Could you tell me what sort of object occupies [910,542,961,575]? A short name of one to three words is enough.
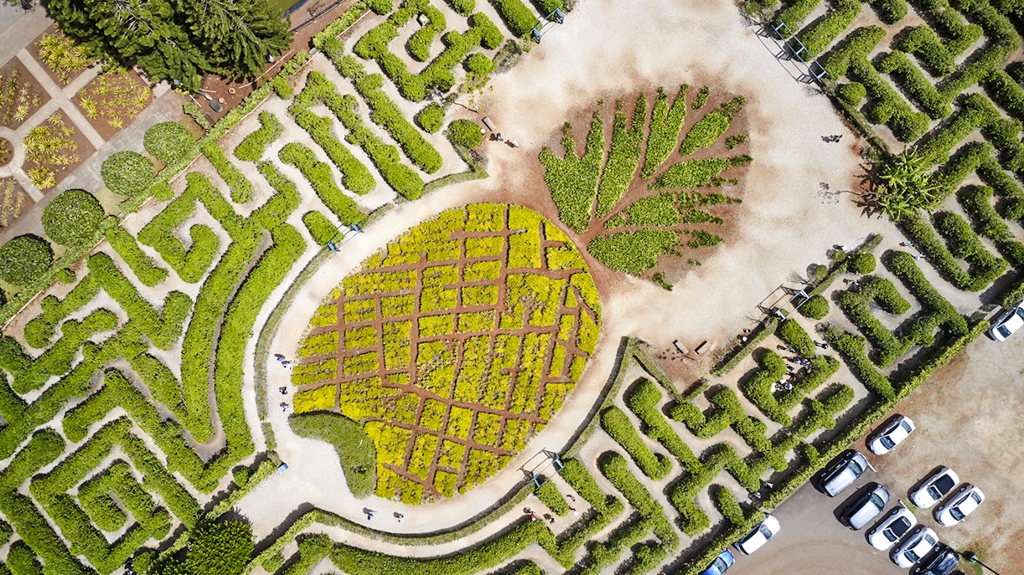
car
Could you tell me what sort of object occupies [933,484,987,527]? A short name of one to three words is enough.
car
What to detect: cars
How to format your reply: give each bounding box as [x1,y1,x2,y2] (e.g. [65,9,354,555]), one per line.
[910,542,961,575]
[888,524,941,569]
[734,511,783,557]
[818,450,871,500]
[867,506,919,550]
[908,465,962,508]
[691,546,737,575]
[864,414,918,455]
[933,484,987,527]
[838,482,892,533]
